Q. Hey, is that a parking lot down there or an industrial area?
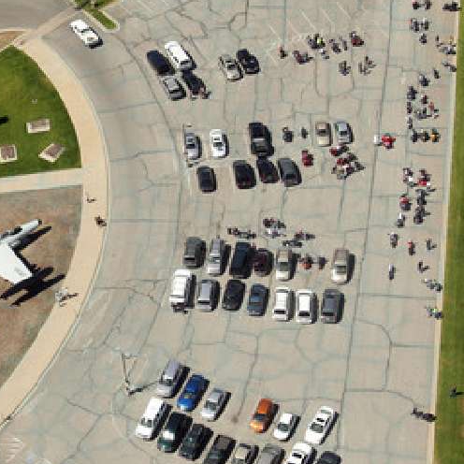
parking lot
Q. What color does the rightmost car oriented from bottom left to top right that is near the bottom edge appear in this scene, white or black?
white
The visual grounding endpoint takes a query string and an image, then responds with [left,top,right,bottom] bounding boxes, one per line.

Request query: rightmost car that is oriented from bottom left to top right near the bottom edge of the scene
[303,406,338,447]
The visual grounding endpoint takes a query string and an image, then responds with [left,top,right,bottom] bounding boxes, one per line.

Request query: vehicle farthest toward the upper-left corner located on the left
[72,20,102,48]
